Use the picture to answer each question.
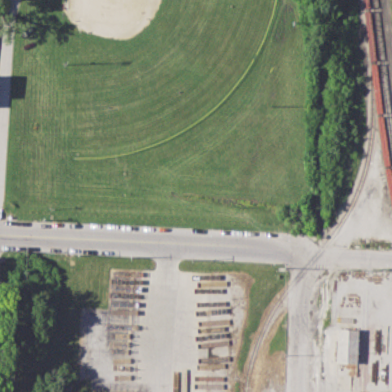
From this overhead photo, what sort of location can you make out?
sports ground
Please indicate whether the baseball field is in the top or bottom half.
top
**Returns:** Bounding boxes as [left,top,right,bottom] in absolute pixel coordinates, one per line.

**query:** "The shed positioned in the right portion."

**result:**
[336,329,360,364]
